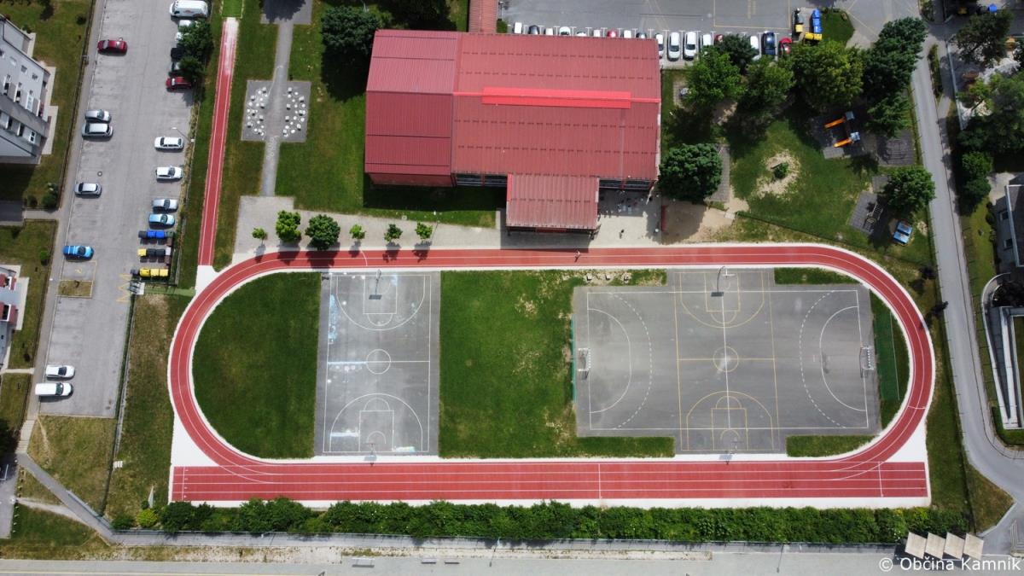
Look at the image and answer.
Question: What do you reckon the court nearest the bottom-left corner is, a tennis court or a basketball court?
basketball court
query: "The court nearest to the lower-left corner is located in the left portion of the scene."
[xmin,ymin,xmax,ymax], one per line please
[314,271,441,456]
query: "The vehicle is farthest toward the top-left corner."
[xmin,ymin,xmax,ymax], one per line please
[97,39,128,53]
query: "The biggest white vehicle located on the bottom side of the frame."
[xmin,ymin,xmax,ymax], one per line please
[32,381,76,397]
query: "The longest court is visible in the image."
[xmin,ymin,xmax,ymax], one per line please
[573,283,880,437]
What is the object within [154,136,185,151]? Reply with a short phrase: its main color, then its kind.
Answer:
white car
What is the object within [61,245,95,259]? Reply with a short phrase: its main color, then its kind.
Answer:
blue car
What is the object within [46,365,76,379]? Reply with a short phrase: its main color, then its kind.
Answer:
white car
